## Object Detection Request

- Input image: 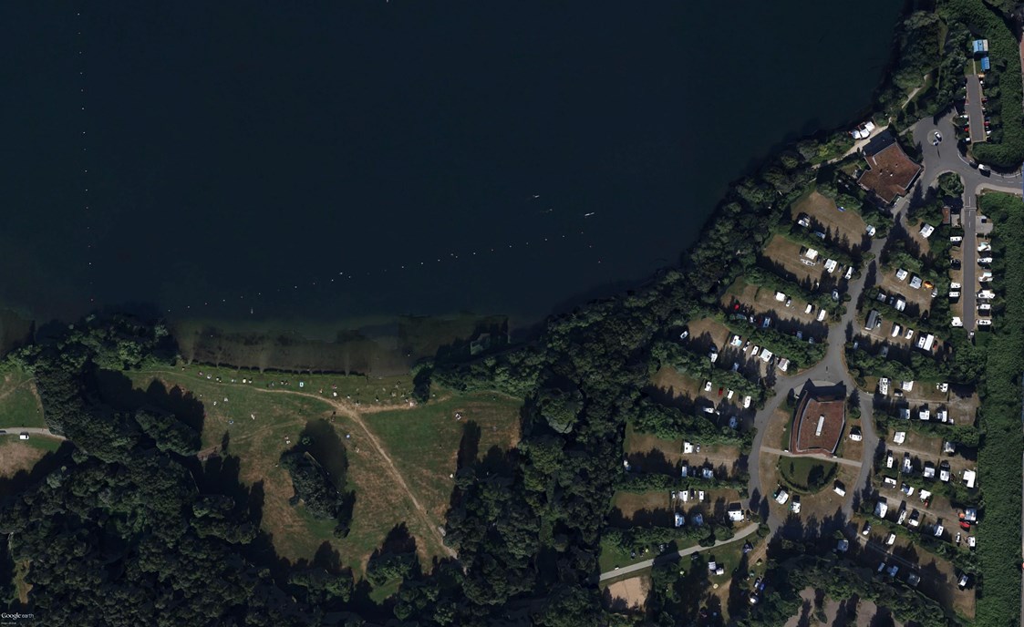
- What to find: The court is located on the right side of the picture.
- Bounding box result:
[608,576,651,612]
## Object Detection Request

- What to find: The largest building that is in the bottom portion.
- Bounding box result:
[790,390,846,457]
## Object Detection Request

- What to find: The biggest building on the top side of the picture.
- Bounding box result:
[860,128,922,202]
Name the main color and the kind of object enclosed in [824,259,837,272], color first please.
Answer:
white vehicle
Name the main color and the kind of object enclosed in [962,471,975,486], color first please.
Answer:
white vehicle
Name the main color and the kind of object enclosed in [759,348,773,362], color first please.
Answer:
white camper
